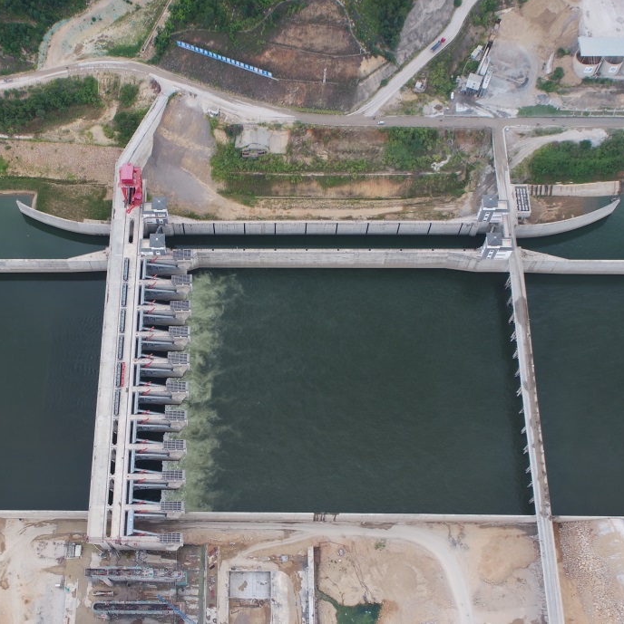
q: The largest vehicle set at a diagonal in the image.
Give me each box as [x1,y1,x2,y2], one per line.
[429,35,446,51]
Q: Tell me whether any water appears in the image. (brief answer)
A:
Yes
